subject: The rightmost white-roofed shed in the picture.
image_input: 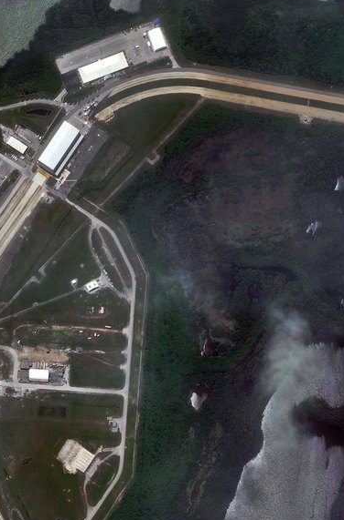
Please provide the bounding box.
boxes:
[147,27,167,51]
